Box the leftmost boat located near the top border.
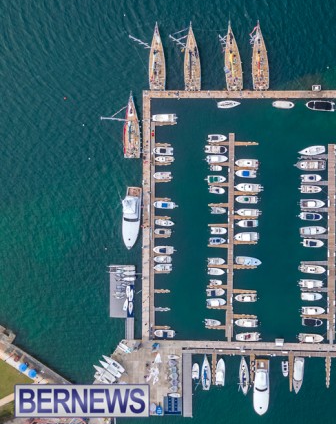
[132,21,166,90]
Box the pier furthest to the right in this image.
[298,144,336,343]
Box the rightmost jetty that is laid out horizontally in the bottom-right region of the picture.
[183,340,336,391]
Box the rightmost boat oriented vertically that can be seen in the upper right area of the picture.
[251,19,271,92]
